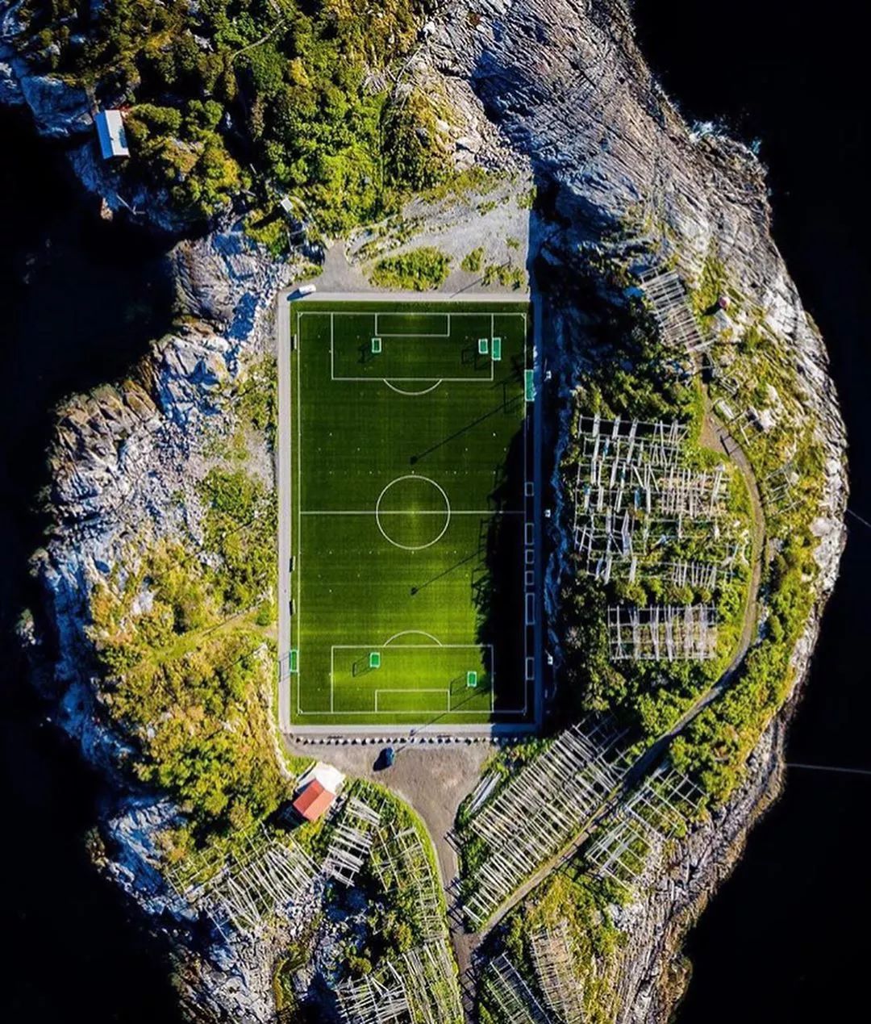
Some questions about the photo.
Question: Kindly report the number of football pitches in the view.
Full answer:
Altogether the scene contains 1 football pitch.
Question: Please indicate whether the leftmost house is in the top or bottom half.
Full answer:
Seen from above, the leftmost house lies in the top half of the view.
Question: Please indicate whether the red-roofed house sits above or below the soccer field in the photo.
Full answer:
The red-roofed house appears below the soccer field in the picture.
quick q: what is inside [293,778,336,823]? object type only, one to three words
house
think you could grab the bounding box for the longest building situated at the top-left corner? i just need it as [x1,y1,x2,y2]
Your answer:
[95,111,129,165]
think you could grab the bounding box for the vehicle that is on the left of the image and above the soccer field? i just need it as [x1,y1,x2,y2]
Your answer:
[299,283,318,295]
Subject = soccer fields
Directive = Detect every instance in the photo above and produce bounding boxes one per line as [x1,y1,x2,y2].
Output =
[291,301,534,724]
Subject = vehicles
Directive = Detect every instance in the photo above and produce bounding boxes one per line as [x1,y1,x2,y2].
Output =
[383,747,392,766]
[299,283,318,295]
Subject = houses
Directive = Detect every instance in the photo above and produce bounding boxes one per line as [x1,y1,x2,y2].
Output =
[293,778,336,823]
[95,111,129,165]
